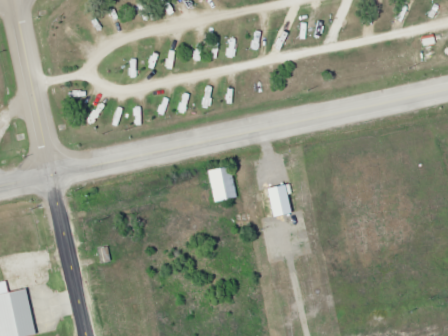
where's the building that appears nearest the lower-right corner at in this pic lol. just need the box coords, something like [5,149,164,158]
[266,184,292,218]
